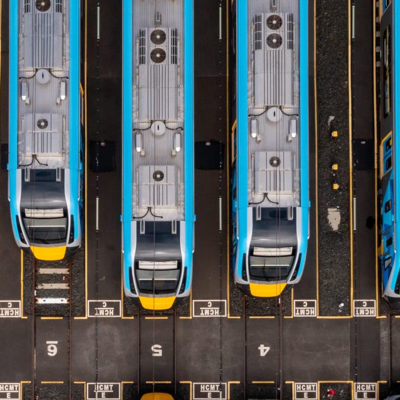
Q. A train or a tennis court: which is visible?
train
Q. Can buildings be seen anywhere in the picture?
No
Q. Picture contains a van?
No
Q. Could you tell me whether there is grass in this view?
No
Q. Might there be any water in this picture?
No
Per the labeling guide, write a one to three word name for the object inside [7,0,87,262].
train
